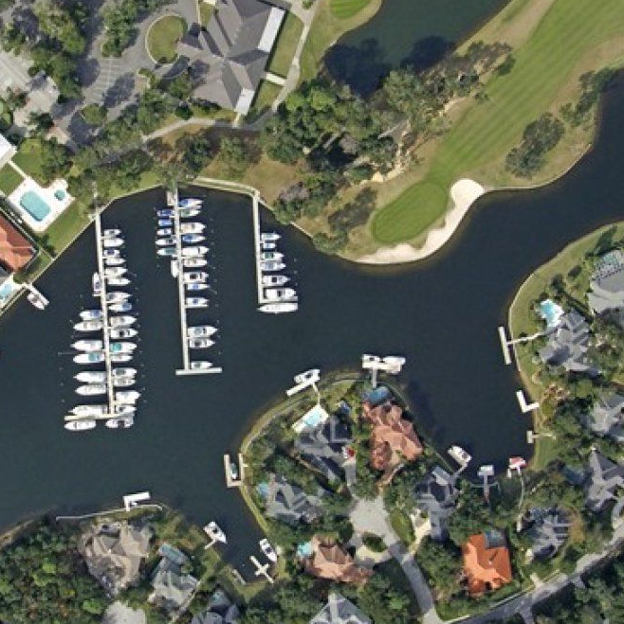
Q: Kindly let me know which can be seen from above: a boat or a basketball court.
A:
boat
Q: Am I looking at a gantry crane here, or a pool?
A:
pool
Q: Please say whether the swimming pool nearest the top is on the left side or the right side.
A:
left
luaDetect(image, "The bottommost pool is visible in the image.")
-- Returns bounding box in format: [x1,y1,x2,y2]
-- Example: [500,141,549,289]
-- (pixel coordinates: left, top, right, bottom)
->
[210,590,229,605]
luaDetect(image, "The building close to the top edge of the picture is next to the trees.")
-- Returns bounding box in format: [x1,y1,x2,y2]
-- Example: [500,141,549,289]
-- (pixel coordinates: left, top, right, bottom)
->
[177,0,285,125]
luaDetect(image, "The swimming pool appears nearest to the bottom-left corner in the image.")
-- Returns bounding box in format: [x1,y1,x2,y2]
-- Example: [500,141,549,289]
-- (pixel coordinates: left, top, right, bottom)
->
[160,543,190,568]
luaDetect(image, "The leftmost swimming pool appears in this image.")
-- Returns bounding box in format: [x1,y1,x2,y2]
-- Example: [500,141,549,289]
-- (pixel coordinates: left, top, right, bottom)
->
[0,274,23,308]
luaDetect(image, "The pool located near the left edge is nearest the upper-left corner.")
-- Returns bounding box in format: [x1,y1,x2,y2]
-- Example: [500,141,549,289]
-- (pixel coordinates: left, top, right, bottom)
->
[8,177,75,232]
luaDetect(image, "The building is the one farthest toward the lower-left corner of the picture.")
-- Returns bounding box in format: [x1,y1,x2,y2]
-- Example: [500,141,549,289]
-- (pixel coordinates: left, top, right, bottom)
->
[88,519,148,592]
